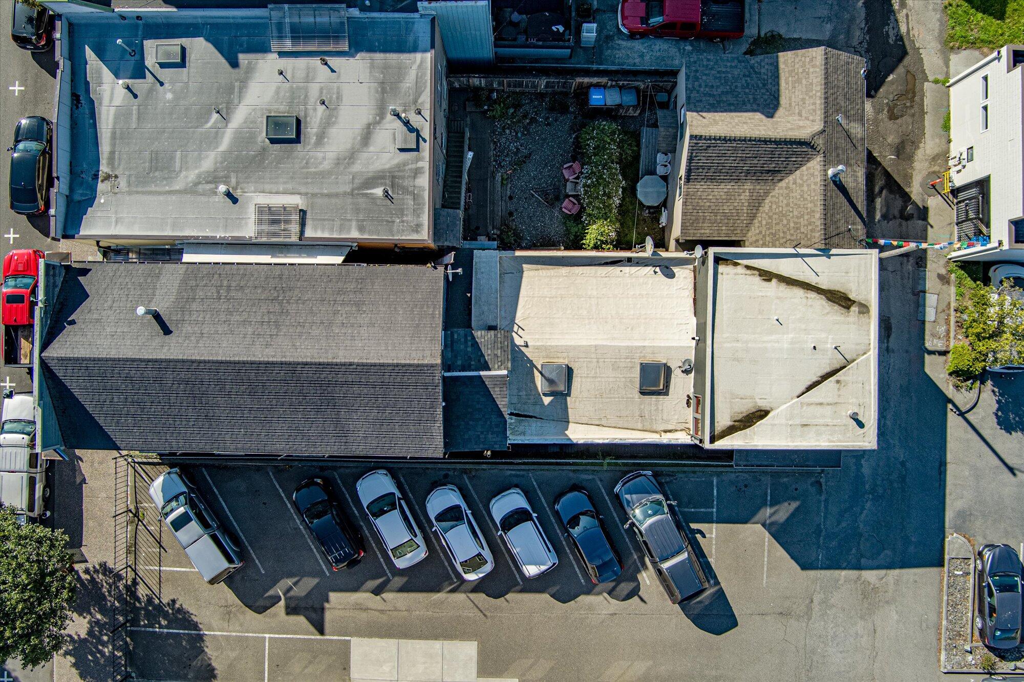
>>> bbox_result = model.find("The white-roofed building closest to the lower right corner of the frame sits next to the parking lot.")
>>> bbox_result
[692,249,877,449]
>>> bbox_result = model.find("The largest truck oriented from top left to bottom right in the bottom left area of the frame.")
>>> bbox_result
[151,470,248,589]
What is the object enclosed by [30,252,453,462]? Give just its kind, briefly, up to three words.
building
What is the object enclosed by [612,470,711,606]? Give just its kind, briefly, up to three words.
truck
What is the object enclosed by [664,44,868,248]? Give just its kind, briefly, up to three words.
house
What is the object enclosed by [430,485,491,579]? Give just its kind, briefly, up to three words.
car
